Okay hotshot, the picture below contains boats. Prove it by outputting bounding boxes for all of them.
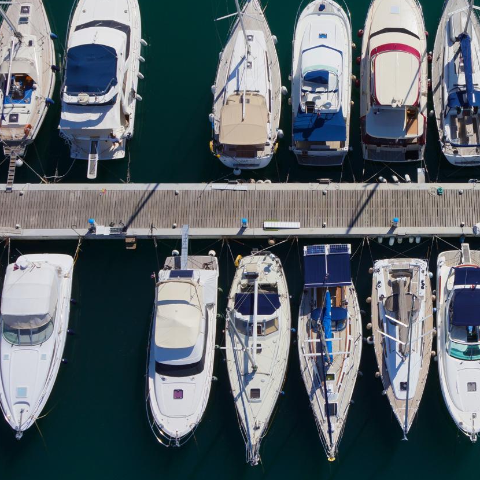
[430,0,480,167]
[0,0,53,191]
[0,248,78,440]
[434,244,480,442]
[290,0,354,166]
[370,254,435,442]
[146,225,220,447]
[60,0,142,178]
[220,248,290,465]
[360,0,428,163]
[212,0,281,167]
[297,245,361,463]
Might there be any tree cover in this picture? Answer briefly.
No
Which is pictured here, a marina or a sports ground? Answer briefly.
marina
